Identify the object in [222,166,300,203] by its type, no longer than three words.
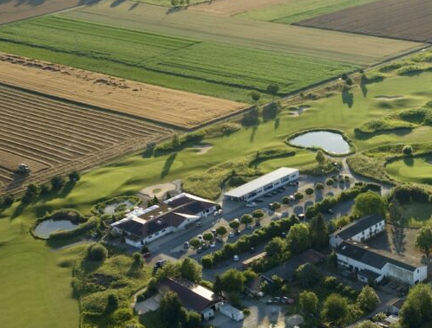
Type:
building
